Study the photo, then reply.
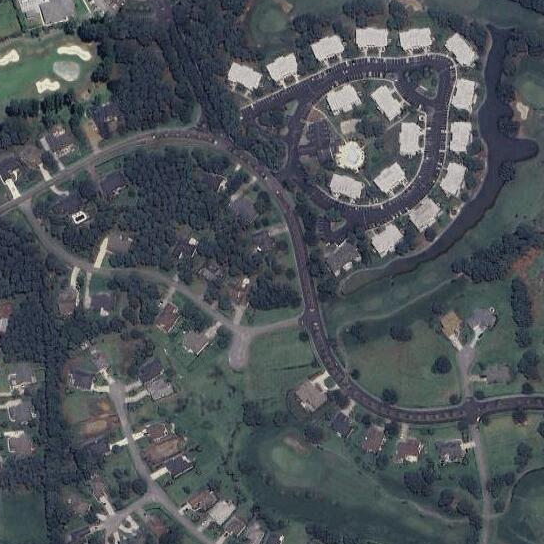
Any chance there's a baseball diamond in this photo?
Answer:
No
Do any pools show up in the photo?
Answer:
Yes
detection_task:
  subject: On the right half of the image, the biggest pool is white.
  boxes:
[335,142,361,170]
